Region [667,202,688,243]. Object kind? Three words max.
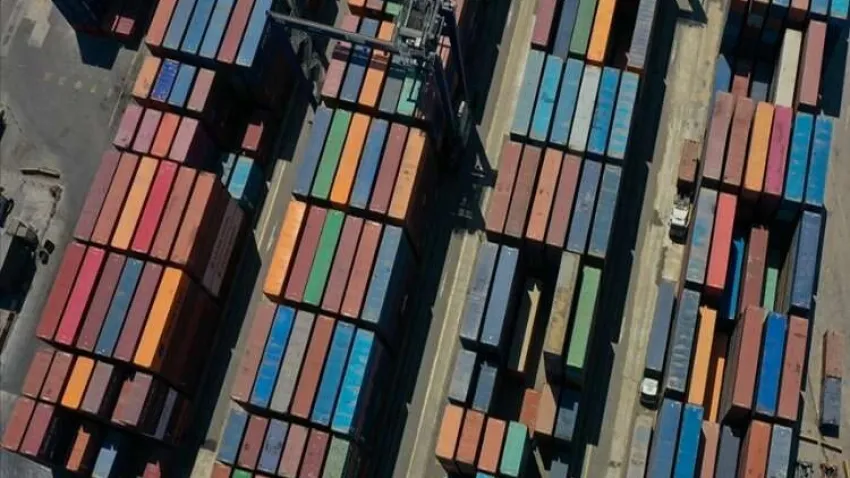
truck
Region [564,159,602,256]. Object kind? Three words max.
shipping container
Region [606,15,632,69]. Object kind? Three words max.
shipping container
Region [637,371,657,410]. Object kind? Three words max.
vehicle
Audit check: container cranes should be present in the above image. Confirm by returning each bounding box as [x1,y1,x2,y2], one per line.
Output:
[264,0,477,143]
